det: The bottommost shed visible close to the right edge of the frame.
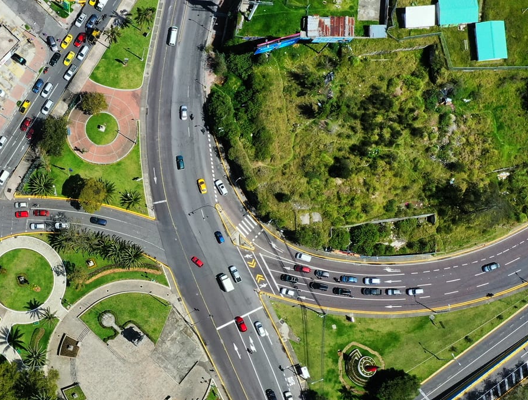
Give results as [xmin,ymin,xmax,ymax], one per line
[468,20,507,64]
